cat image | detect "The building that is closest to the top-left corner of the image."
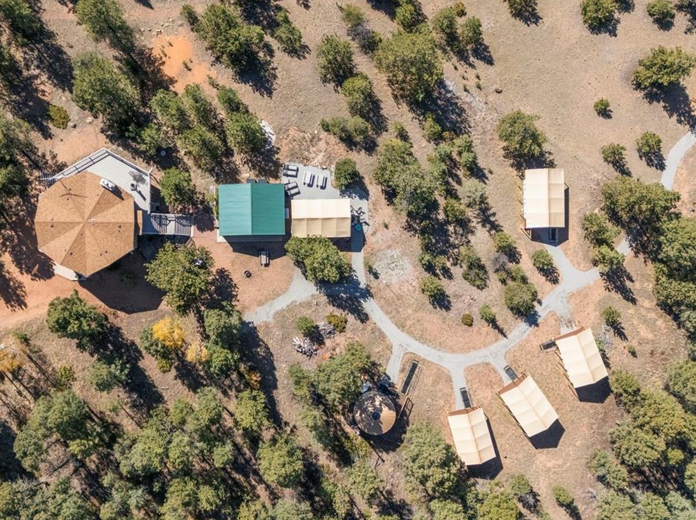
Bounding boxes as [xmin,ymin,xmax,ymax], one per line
[34,171,141,281]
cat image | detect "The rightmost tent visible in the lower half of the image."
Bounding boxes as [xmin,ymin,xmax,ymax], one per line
[539,327,608,389]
